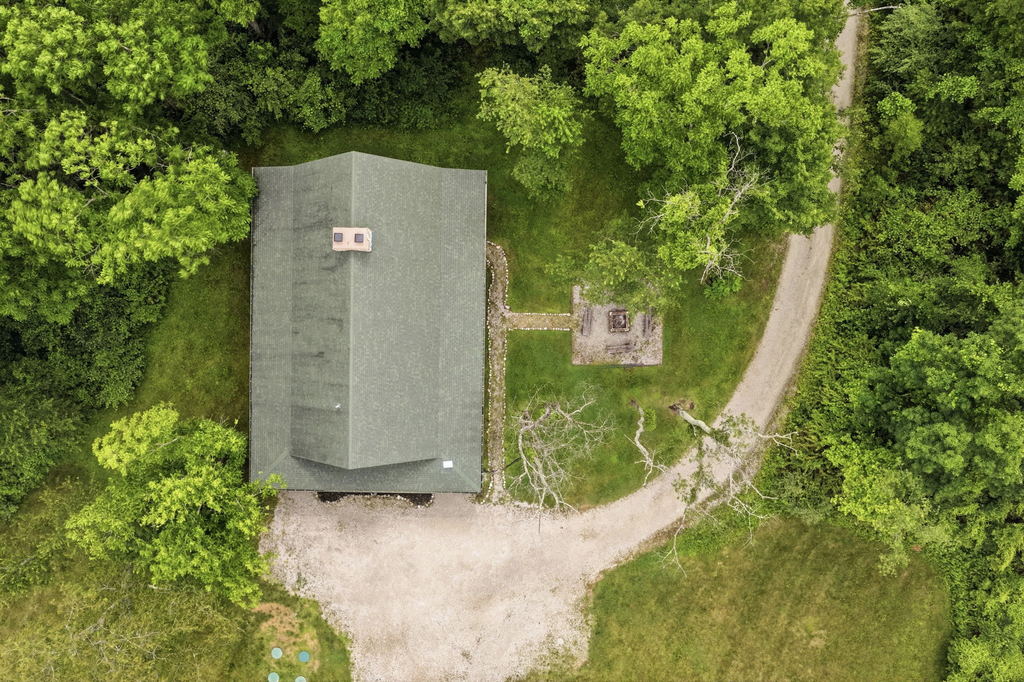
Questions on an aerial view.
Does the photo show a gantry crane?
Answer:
No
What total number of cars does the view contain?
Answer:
0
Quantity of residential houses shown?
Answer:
1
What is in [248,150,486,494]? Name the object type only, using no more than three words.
house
